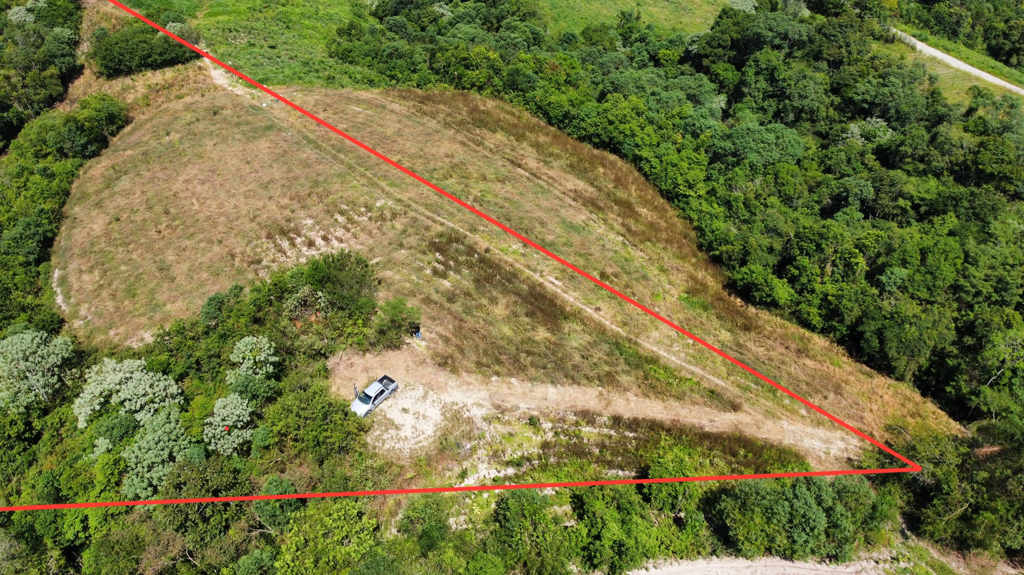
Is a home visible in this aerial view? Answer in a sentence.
No, I can't see a single home in this photo.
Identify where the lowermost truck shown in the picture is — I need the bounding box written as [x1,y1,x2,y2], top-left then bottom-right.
[351,374,399,419]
